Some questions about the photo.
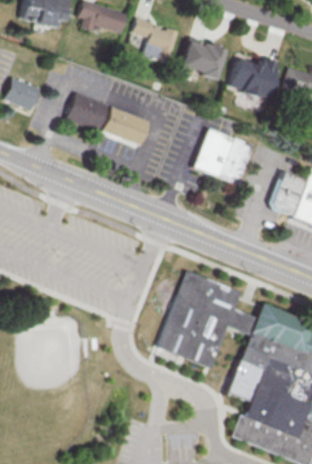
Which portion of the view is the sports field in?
bottom left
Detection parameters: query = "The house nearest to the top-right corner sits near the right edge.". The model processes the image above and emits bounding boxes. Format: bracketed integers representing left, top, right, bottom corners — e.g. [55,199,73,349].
[284,64,312,91]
